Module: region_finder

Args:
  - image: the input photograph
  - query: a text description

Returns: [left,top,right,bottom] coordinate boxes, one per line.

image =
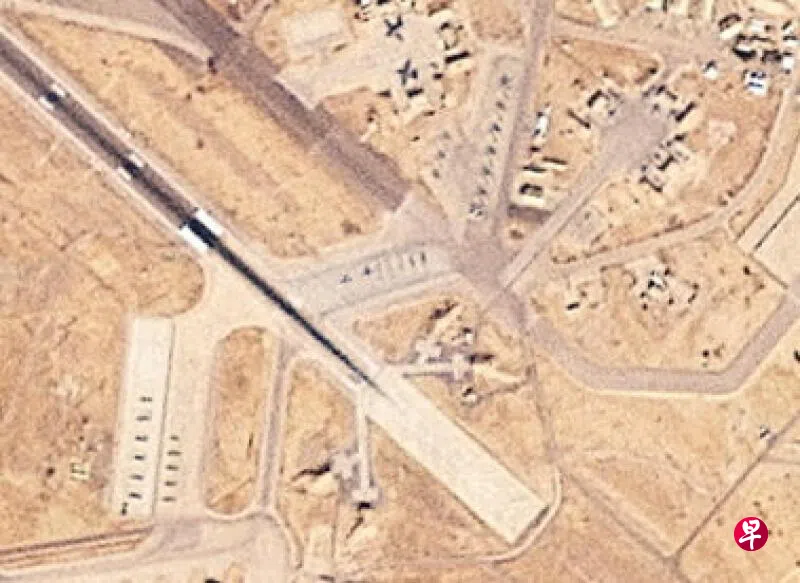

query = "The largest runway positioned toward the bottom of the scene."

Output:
[313,306,550,546]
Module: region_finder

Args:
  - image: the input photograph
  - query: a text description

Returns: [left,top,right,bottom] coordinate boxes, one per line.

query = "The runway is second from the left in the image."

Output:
[187,214,386,392]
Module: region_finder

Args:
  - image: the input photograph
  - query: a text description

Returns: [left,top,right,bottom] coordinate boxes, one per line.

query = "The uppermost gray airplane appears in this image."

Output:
[383,18,403,37]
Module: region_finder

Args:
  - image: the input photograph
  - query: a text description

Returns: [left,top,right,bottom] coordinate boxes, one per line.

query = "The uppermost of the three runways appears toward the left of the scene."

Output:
[0,34,198,229]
